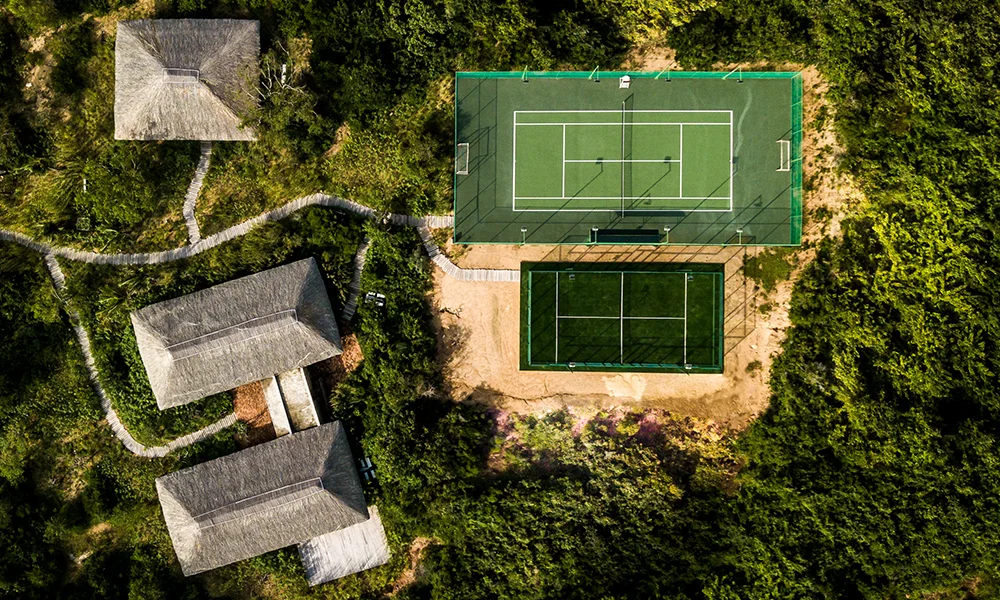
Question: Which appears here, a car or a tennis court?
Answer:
tennis court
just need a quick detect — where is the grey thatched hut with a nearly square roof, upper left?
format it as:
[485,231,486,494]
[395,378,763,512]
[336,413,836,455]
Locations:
[113,19,260,141]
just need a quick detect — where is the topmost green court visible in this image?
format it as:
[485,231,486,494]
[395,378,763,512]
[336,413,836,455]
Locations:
[456,78,792,243]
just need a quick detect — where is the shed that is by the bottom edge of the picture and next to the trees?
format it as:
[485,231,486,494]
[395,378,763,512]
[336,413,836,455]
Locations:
[155,421,368,576]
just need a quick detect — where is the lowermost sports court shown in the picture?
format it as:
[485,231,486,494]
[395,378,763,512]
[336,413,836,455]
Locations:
[520,262,723,373]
